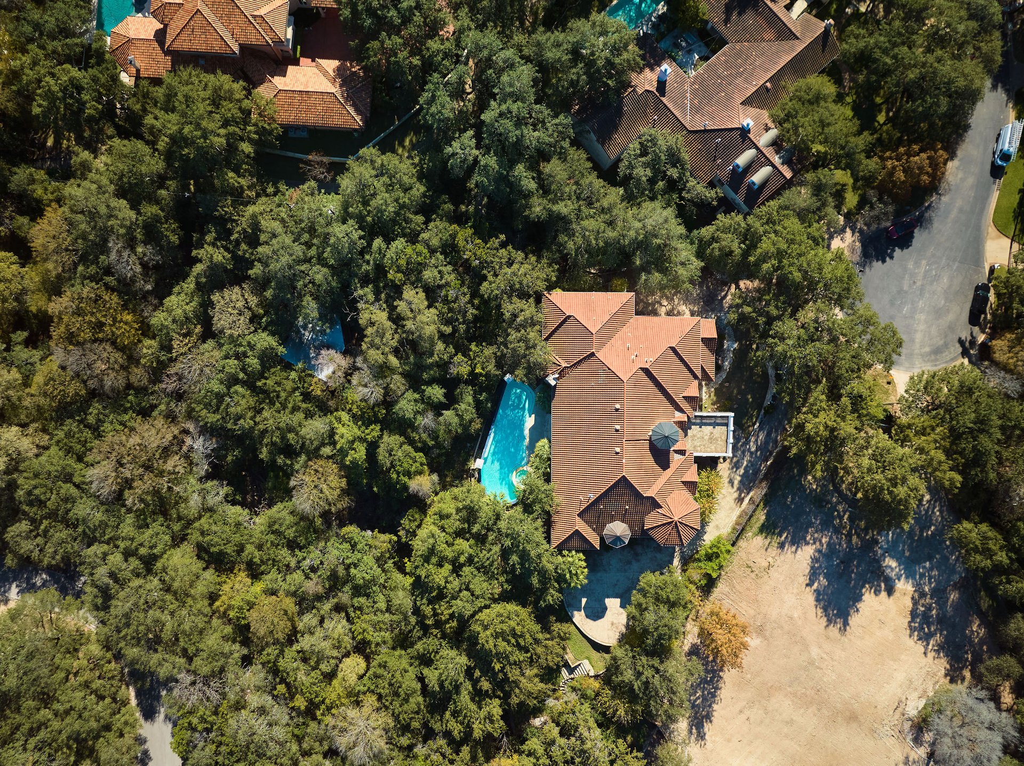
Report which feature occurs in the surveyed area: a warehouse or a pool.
pool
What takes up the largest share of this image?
trees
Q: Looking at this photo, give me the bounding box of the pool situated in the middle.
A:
[474,373,537,506]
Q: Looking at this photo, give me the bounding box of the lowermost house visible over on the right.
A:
[542,291,718,551]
